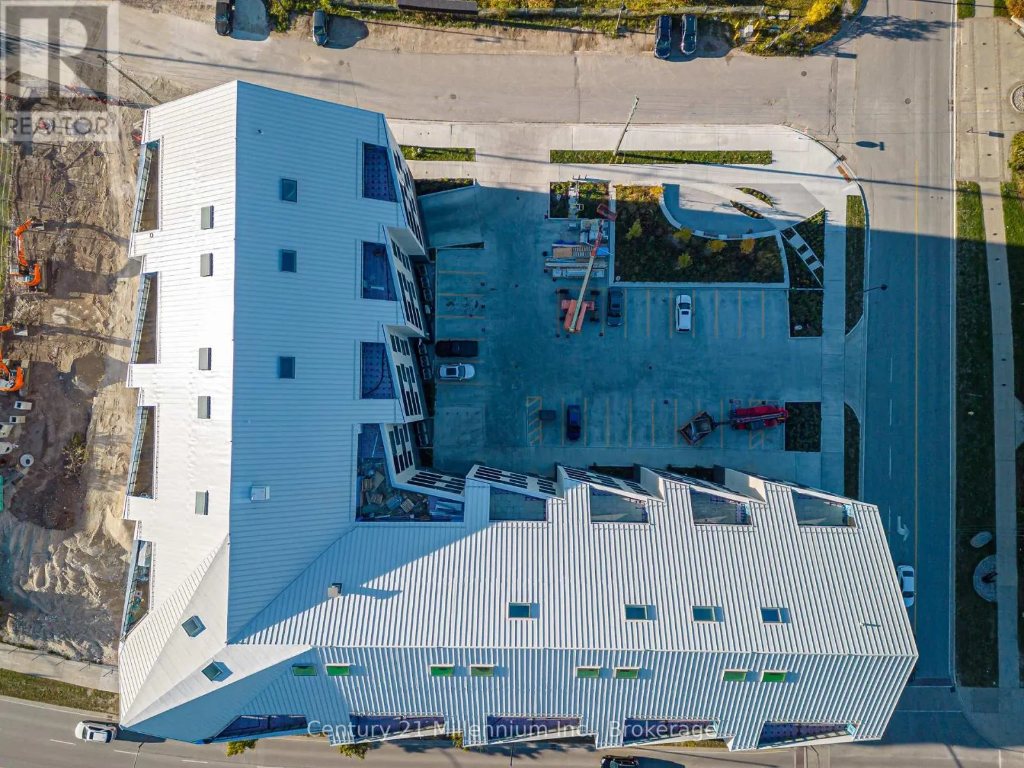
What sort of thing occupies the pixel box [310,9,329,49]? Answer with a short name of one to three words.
car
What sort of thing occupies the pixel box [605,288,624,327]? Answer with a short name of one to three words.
car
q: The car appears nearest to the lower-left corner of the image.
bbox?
[76,719,120,742]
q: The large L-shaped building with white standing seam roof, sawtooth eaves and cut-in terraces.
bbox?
[118,79,920,751]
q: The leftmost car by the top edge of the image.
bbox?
[213,0,235,37]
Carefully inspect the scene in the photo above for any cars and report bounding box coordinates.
[76,719,120,742]
[605,288,624,327]
[896,564,916,605]
[213,0,235,37]
[679,14,699,56]
[565,404,583,440]
[438,363,475,381]
[435,339,480,358]
[674,294,693,333]
[310,9,329,49]
[653,15,673,60]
